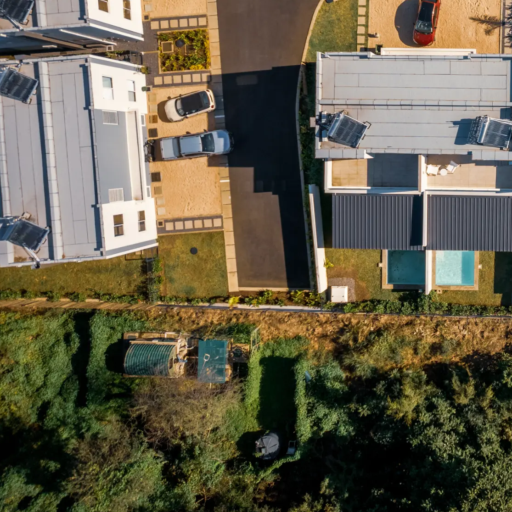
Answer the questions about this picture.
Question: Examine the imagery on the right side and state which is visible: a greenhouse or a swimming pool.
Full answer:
The feature located on the right side is a swimming pool.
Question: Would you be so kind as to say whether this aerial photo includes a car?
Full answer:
Yes, I can see a car in this picture.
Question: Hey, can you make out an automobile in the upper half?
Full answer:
Yes, an automobile shows up in the upper half.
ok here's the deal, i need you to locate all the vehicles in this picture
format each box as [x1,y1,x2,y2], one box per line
[410,0,442,48]
[163,89,219,122]
[160,129,233,160]
[145,137,157,161]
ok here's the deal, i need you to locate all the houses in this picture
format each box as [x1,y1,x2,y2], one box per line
[311,48,512,252]
[0,55,159,272]
[0,0,143,55]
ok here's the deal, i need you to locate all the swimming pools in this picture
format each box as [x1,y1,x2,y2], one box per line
[431,251,482,290]
[378,238,425,288]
